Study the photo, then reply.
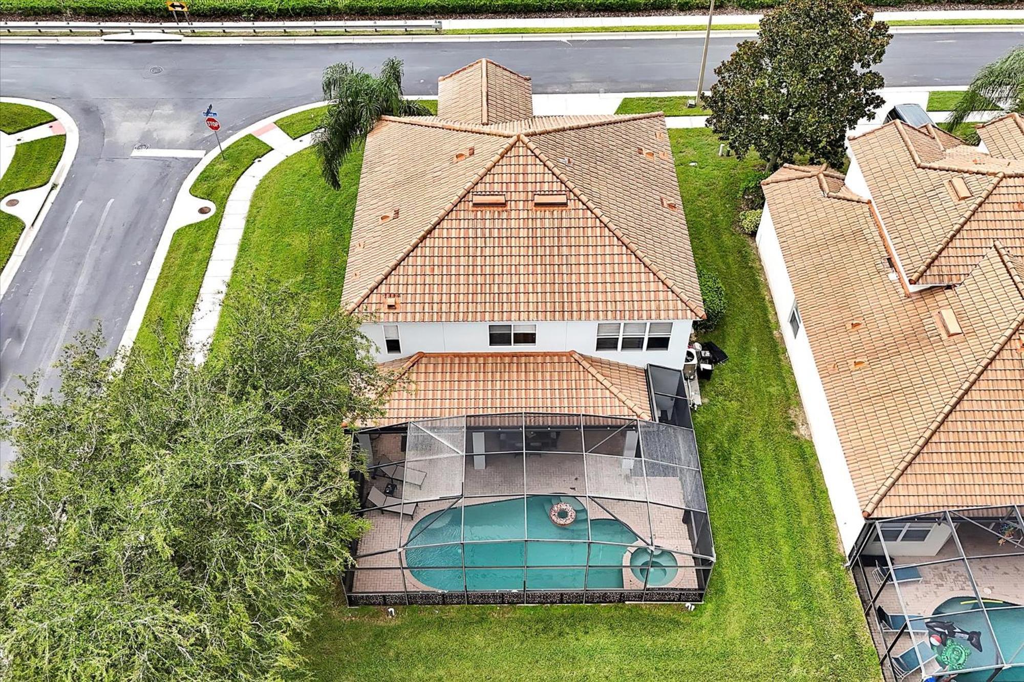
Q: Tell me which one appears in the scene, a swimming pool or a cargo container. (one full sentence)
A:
There is a swimming pool in the scene.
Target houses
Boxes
[336,55,710,472]
[757,105,1024,557]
